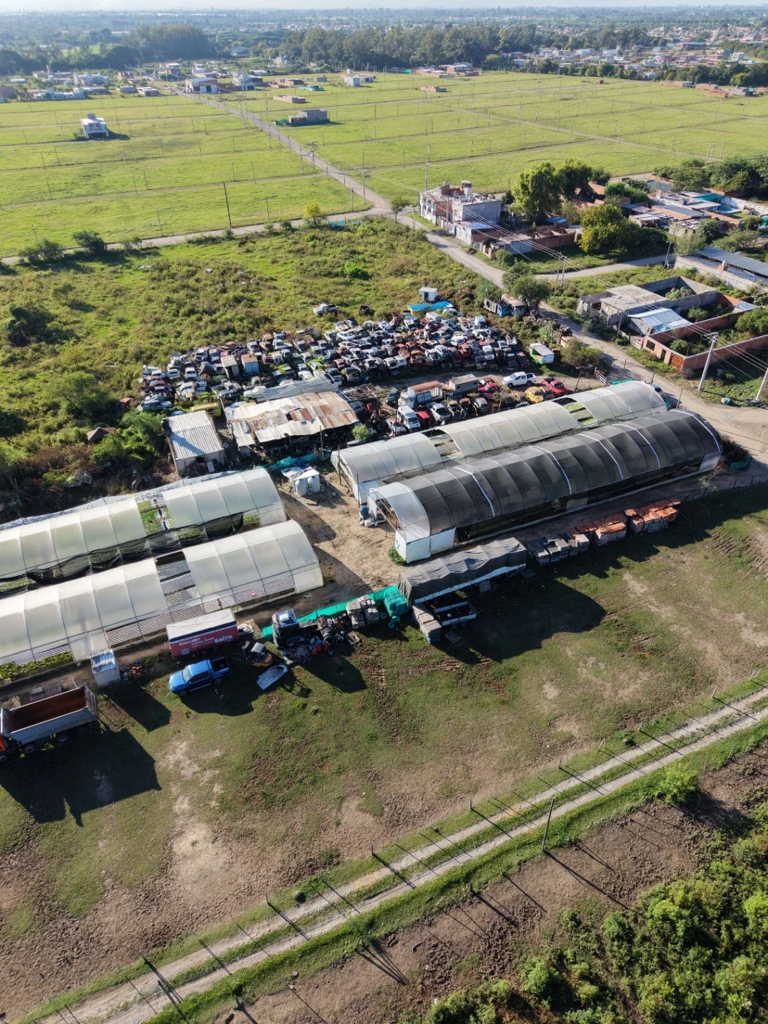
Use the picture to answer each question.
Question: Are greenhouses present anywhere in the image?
Yes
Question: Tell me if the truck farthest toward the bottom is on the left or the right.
left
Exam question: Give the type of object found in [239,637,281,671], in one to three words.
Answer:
work vehicle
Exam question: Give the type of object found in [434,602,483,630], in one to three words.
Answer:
trailer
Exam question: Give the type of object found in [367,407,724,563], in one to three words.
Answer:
greenhouse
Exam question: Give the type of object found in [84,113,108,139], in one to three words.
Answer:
house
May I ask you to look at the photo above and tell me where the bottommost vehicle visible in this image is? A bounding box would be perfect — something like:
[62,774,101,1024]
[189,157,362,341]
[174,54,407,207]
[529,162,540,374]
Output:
[0,684,102,767]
